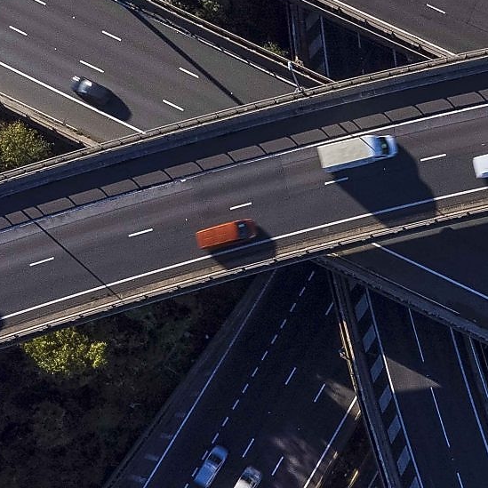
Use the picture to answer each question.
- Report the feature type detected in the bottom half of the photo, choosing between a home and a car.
car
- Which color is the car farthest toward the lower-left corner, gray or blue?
blue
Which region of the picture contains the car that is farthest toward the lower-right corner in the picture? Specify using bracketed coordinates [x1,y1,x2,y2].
[237,468,262,488]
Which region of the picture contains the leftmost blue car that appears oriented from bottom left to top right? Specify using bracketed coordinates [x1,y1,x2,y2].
[198,445,235,488]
